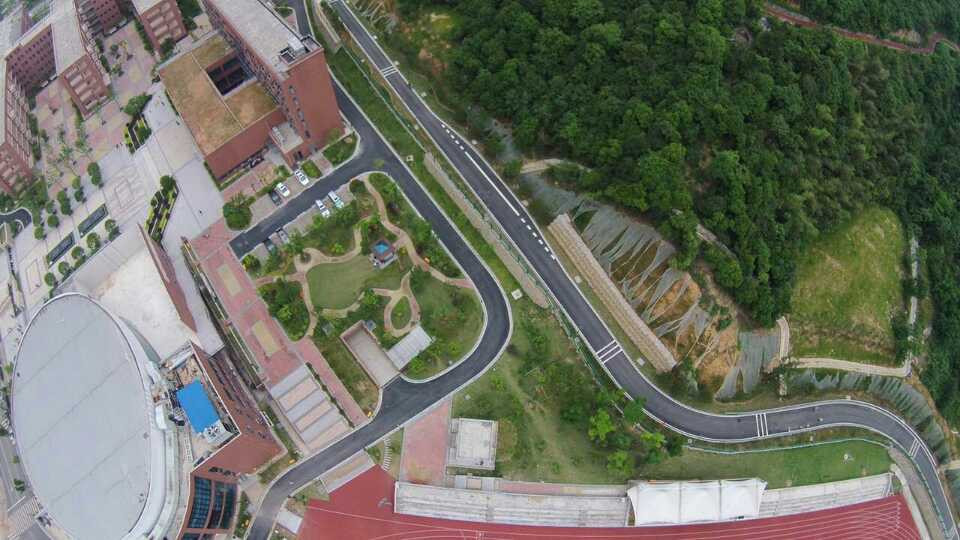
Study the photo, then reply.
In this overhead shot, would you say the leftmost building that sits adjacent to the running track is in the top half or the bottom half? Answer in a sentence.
You can find the leftmost building that sits adjacent to the running track in the bottom half.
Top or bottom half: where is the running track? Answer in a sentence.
It is in the bottom half that the running track appears.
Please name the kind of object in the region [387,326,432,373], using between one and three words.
shed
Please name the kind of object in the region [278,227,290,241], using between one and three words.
vehicle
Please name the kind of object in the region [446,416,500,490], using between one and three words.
building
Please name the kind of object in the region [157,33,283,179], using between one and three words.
building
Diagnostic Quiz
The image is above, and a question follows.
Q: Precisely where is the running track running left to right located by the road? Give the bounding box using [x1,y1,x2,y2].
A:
[301,465,920,540]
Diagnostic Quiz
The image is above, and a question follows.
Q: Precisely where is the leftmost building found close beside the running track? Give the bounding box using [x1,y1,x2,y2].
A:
[9,291,180,540]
